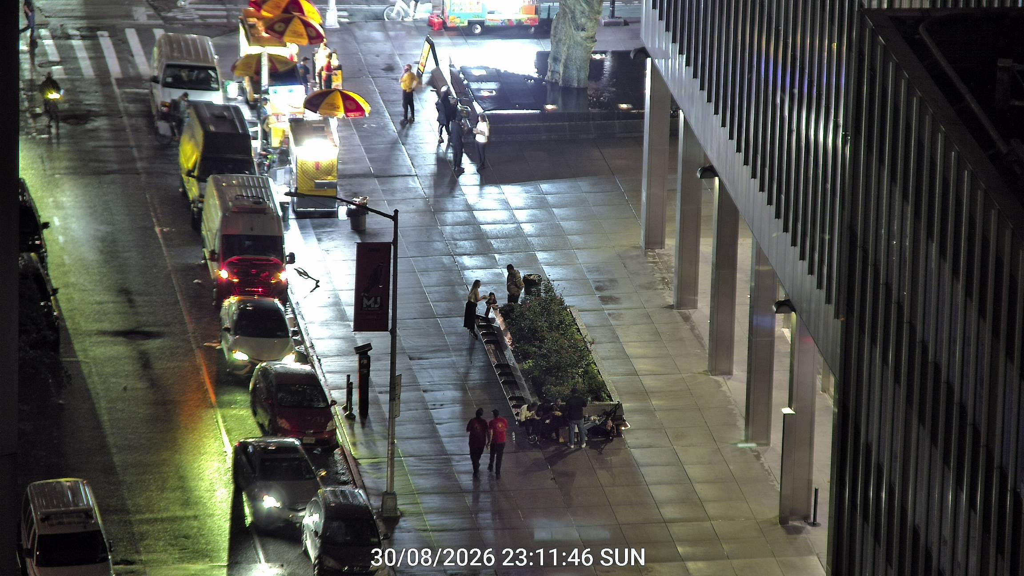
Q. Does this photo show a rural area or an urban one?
urban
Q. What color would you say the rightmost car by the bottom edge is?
black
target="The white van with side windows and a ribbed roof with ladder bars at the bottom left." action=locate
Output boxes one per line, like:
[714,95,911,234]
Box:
[20,478,122,576]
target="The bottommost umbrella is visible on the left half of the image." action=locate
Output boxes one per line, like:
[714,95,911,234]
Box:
[306,88,371,137]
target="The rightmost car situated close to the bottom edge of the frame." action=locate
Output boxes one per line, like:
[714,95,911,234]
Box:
[296,482,399,576]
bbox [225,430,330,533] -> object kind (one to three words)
car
